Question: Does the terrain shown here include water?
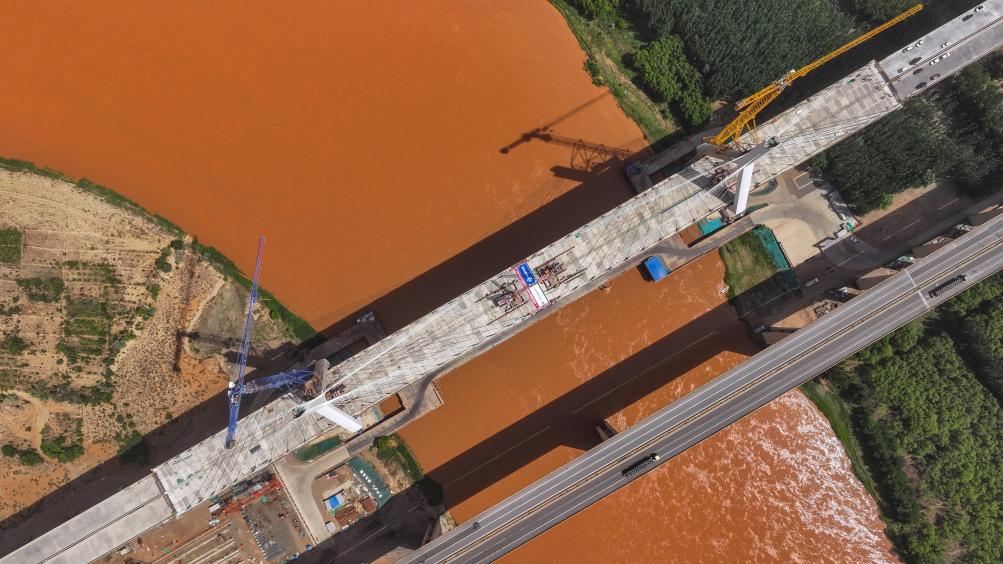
Yes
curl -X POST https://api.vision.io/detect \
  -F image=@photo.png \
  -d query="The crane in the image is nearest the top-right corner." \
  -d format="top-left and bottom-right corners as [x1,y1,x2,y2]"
[682,5,924,168]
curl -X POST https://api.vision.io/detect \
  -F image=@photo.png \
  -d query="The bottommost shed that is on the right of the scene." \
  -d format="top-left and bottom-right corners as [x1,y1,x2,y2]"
[642,254,673,285]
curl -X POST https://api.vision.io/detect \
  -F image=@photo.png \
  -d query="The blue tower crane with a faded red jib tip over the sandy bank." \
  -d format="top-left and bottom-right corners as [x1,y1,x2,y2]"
[223,237,346,448]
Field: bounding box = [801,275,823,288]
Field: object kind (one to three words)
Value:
vehicle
